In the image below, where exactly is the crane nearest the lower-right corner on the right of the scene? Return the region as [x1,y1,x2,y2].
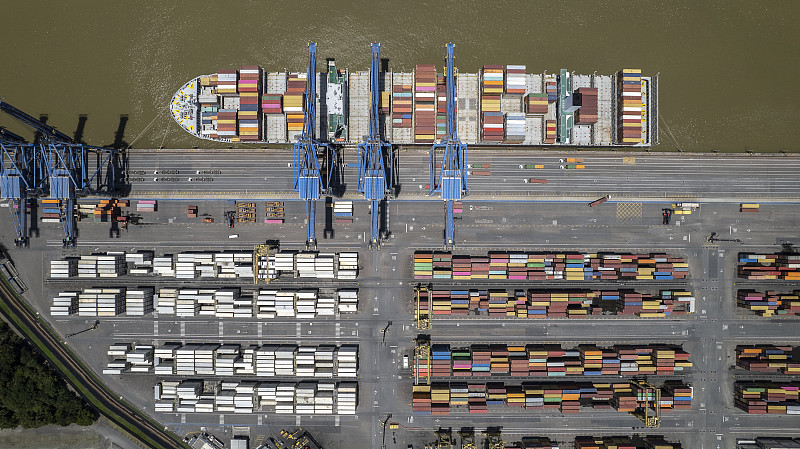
[635,375,662,426]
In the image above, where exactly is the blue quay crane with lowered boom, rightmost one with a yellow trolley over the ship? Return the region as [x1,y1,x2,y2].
[423,43,470,251]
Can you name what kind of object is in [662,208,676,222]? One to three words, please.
work vehicle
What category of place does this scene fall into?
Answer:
port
